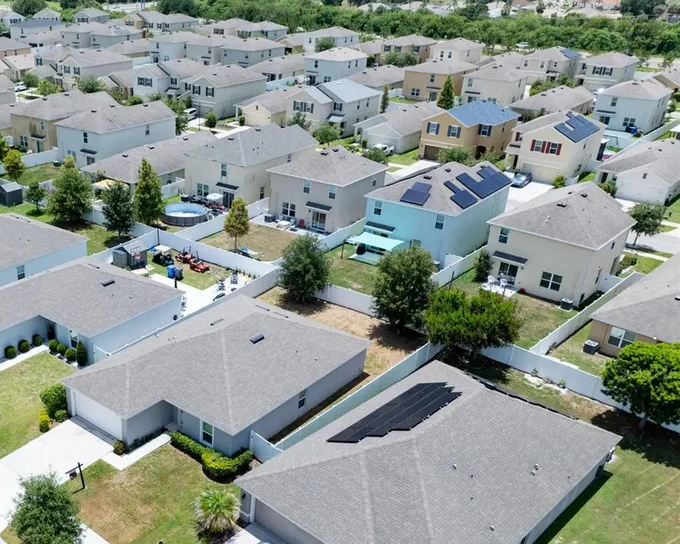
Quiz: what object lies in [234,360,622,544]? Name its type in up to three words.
house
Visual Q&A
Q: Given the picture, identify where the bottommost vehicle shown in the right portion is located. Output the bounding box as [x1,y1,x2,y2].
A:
[510,172,531,186]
